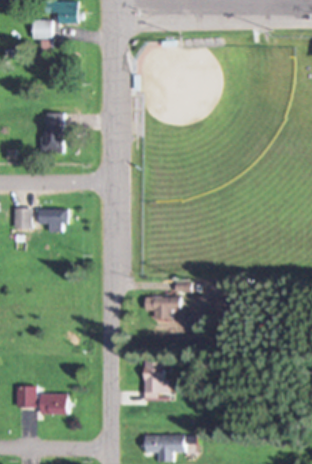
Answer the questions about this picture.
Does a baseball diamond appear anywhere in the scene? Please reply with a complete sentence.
Yes, there is a baseball diamond in the image.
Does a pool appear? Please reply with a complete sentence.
No, I can't see a single pool in this photo.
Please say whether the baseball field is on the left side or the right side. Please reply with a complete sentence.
The baseball field appears in the right half of the scene.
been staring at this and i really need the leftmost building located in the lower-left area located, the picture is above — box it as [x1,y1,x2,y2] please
[16,386,38,408]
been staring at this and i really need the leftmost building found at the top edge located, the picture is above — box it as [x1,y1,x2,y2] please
[30,20,56,40]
